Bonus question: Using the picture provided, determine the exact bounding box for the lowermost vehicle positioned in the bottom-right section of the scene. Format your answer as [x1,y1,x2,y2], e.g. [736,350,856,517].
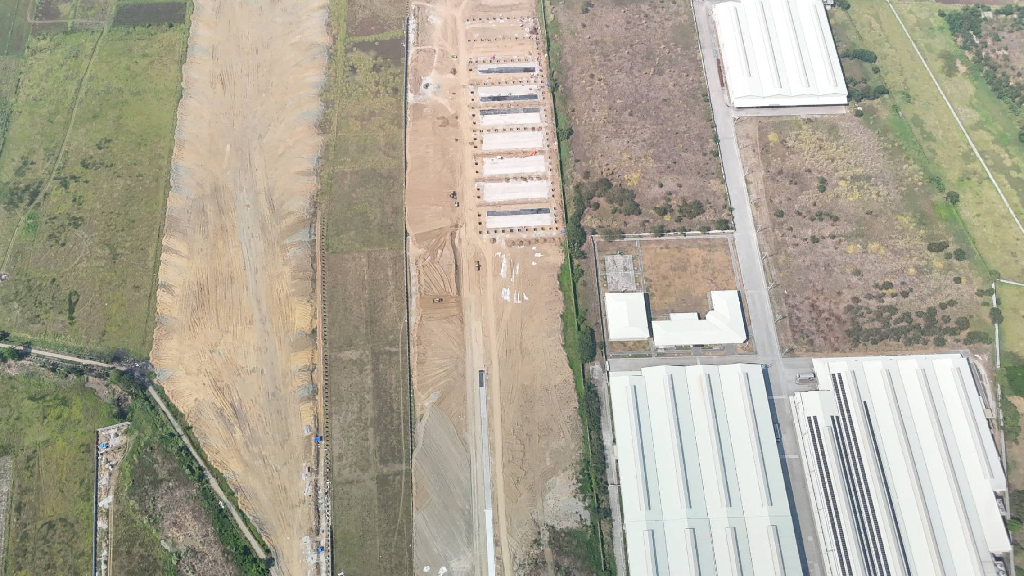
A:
[773,421,785,442]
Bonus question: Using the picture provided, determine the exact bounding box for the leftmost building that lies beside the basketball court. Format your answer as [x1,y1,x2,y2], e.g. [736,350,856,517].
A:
[605,292,649,343]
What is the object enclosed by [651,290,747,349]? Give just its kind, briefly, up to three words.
building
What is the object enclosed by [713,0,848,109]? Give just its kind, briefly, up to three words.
building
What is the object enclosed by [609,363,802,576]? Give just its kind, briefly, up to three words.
warehouse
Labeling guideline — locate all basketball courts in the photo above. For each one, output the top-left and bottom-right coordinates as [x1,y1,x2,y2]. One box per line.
[605,255,636,292]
